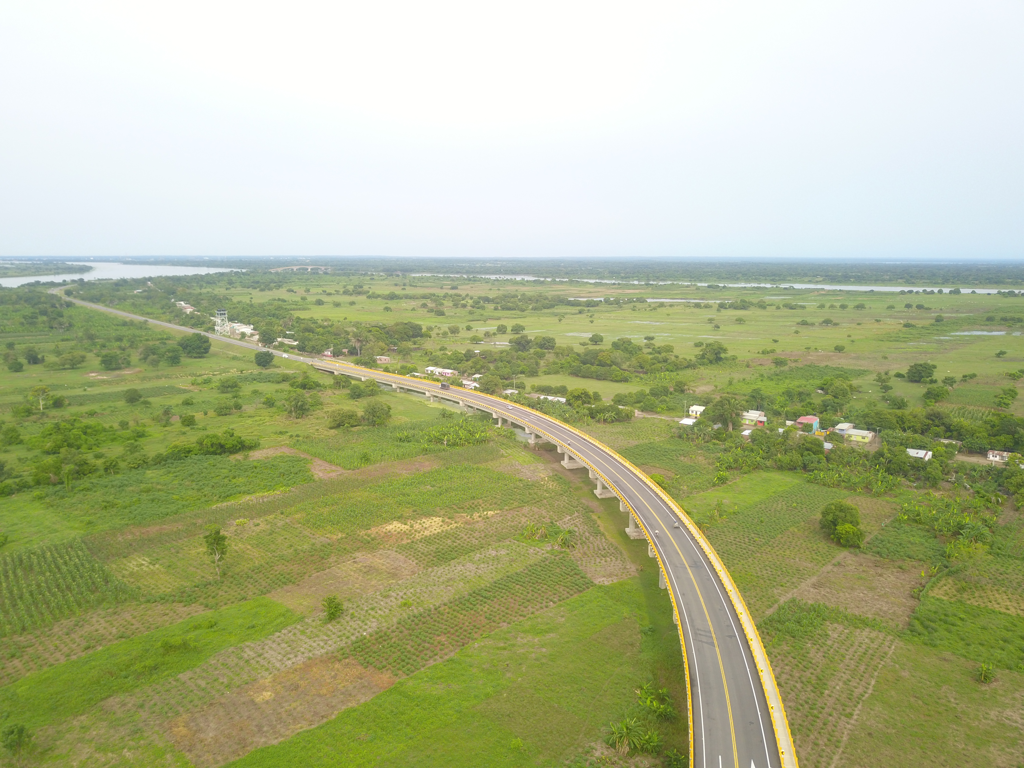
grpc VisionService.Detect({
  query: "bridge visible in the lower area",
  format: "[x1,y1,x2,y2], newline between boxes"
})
[300,359,807,768]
